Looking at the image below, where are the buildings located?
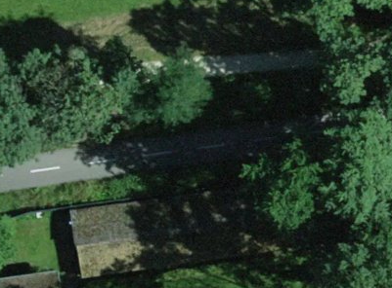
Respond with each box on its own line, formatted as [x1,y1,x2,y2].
[0,271,61,288]
[70,188,284,282]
